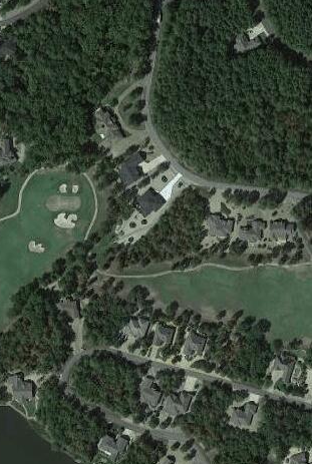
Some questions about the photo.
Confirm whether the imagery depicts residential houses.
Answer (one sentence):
Yes, a residential house appears in the view.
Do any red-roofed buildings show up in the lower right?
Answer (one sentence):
No, in the lower right there is no red-roofed building.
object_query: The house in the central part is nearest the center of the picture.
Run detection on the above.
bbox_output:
[137,186,168,218]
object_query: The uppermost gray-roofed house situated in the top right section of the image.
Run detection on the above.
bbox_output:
[232,34,259,54]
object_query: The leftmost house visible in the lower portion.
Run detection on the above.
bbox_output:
[10,376,33,399]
